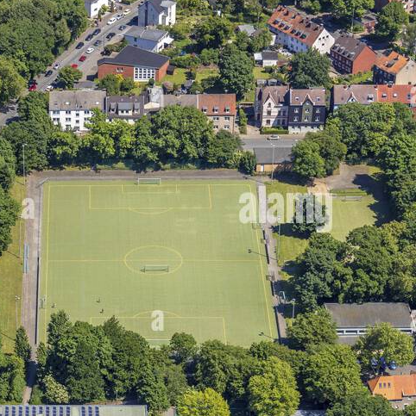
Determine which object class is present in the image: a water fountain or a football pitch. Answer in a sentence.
This aerial view contains a football pitch.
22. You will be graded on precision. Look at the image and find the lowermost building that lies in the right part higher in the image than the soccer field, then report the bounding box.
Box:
[252,145,293,171]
